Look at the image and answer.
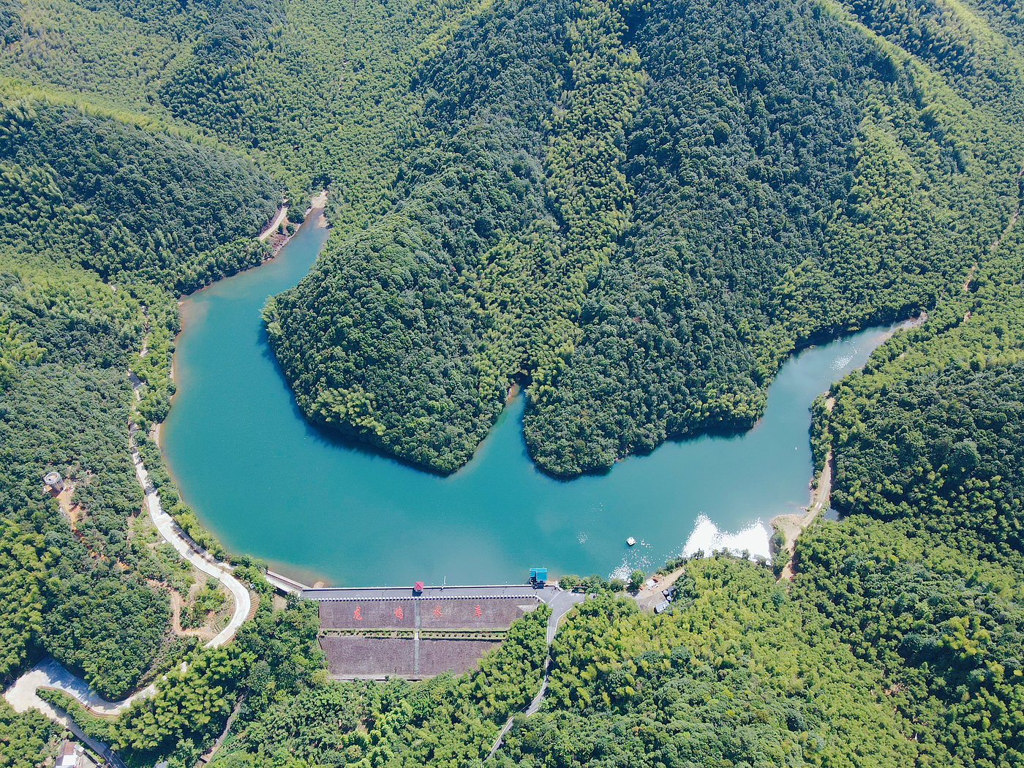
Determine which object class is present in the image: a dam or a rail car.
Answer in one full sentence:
It is a dam that can be seen here.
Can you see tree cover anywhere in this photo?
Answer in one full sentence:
Yes, tree cover can be seen from above here.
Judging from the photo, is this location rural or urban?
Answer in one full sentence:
This place is rural.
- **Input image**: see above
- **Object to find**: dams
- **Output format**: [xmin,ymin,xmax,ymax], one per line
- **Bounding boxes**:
[297,579,562,683]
